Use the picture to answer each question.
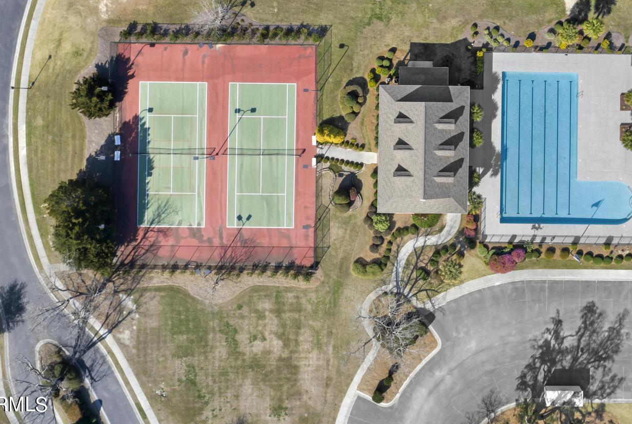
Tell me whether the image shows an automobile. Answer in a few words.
No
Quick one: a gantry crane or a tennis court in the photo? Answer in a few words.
tennis court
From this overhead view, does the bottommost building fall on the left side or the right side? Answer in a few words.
right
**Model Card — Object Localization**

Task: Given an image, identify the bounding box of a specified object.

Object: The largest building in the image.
[378,85,470,214]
